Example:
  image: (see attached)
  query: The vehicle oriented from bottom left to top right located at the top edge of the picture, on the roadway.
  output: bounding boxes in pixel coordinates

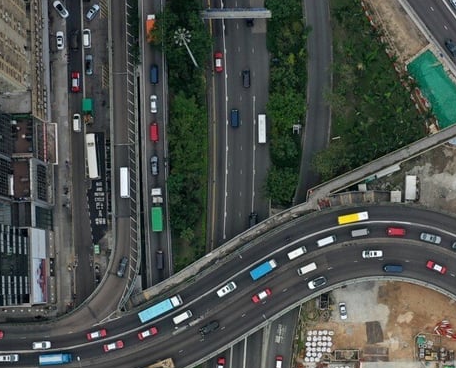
[85,3,101,23]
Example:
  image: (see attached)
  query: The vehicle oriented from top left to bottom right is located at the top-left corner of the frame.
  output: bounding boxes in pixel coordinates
[55,0,70,19]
